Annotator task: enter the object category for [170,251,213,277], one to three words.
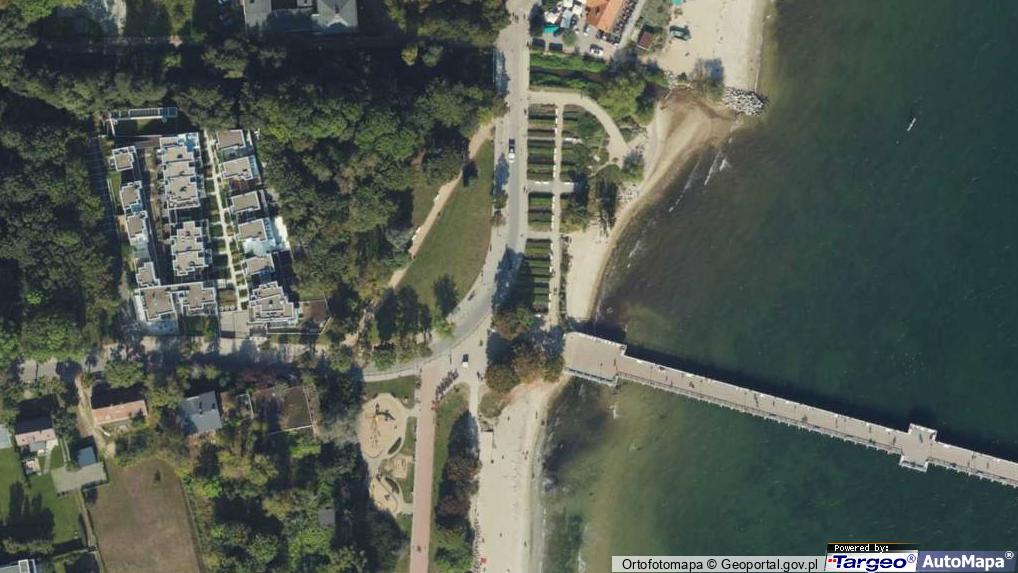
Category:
house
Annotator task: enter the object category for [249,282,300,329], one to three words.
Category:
house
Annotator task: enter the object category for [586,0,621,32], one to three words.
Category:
building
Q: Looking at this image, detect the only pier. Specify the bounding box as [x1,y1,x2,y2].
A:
[565,332,1018,488]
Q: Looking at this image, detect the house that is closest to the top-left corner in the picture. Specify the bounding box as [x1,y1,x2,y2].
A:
[107,146,138,173]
